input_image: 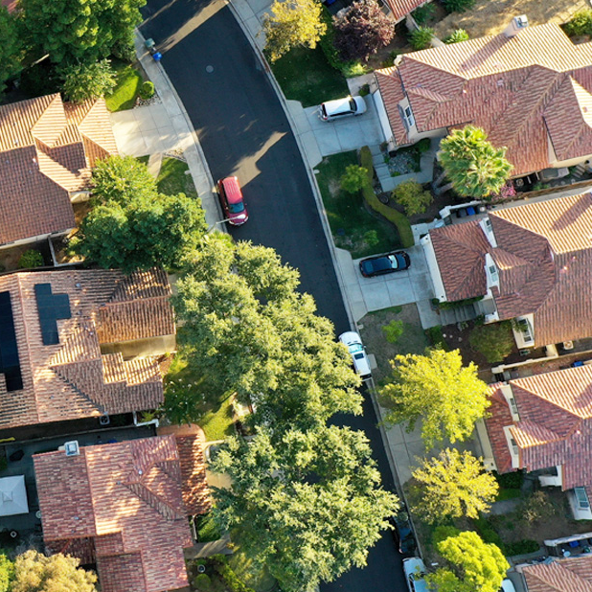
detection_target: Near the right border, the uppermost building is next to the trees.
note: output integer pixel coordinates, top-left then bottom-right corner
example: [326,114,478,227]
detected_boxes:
[368,13,592,177]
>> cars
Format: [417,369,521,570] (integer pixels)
[356,249,412,279]
[217,174,249,226]
[401,555,433,592]
[386,501,419,558]
[339,327,376,381]
[316,91,369,121]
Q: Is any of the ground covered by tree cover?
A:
Yes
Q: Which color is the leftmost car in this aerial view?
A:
red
